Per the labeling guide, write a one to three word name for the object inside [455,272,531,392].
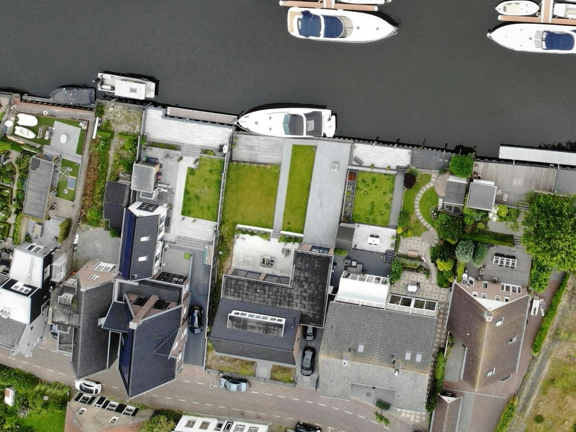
house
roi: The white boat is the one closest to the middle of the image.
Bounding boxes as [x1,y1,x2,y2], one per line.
[234,106,335,137]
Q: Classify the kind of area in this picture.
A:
residential area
